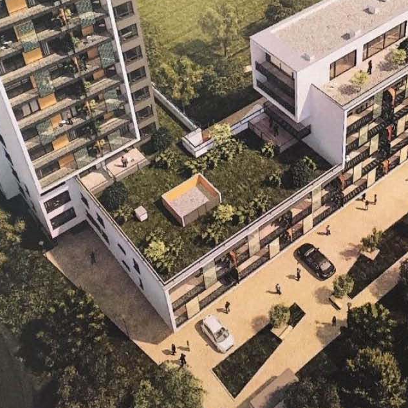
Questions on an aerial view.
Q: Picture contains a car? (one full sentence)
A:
Yes, you can see a car in this photo.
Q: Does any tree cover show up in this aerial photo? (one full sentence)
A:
Yes, tree cover shows up in the scene.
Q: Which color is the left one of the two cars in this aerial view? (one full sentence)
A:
The left one of the two cars is white.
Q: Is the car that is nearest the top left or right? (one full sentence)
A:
You can find the car that is nearest the top on the right side of the picture.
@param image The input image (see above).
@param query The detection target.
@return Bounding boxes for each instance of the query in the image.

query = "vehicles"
[294,239,336,279]
[197,311,236,354]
